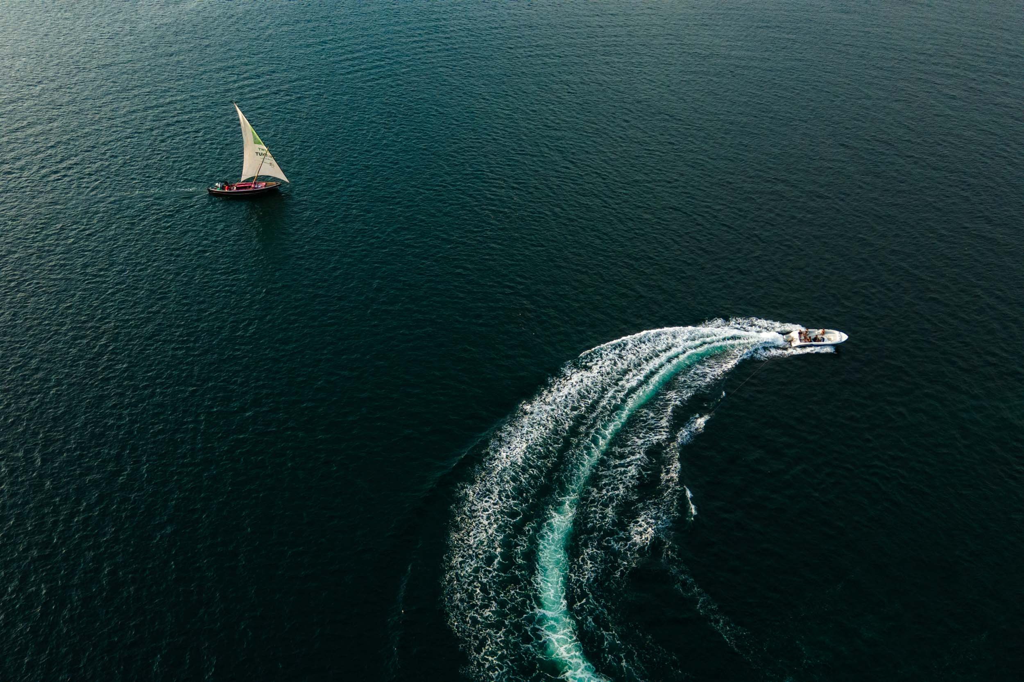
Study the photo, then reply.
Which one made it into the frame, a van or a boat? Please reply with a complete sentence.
It is a boat that can be seen here.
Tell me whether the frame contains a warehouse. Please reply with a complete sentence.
No, there isn't any warehouse down there.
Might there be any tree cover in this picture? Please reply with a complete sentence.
No, the scene doesn't show any tree cover.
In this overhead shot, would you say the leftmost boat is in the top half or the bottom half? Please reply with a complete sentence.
It is in the top half that the leftmost boat appears.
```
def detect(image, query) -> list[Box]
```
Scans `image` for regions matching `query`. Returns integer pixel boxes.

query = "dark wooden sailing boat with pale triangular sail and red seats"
[206,100,290,196]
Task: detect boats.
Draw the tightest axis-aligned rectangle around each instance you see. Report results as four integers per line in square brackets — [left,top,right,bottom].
[206,100,290,196]
[783,328,850,347]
